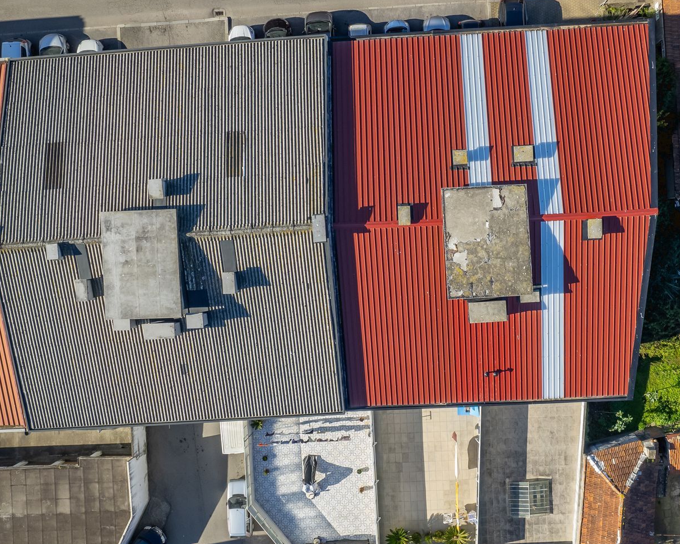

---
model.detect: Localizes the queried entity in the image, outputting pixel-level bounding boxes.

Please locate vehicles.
[0,37,29,60]
[349,19,371,34]
[75,38,103,51]
[298,6,334,33]
[226,22,254,39]
[30,33,68,55]
[257,14,291,36]
[384,13,409,32]
[424,14,450,29]
[498,0,528,25]
[222,482,250,544]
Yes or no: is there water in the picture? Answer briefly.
No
